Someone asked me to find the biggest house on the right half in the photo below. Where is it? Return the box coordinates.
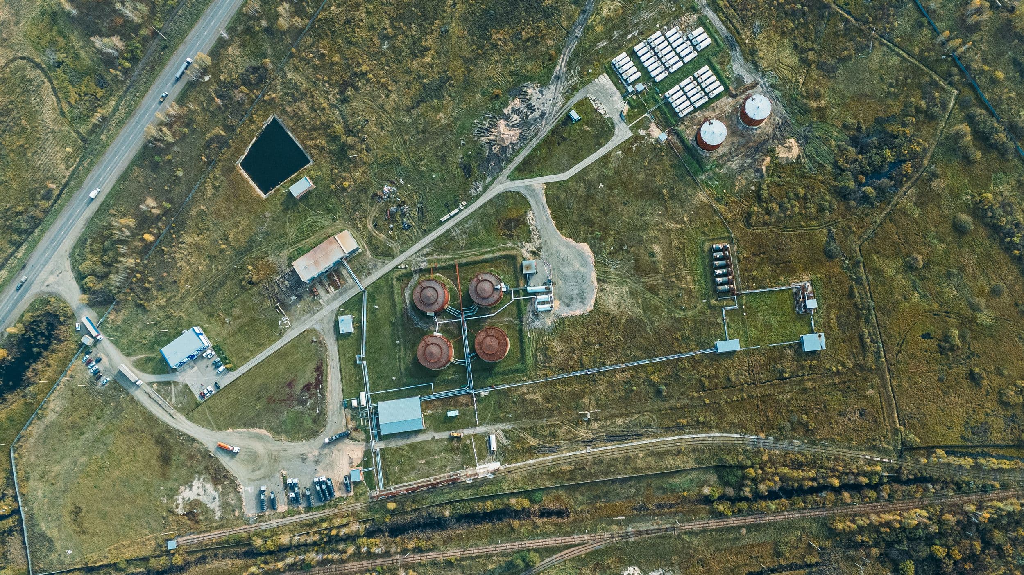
[800,333,826,351]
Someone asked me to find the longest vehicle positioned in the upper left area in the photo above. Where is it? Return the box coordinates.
[176,58,194,80]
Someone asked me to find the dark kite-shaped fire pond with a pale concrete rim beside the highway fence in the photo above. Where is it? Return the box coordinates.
[236,114,314,198]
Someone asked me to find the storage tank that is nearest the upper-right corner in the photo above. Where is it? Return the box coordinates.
[739,94,772,127]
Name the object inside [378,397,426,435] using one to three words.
building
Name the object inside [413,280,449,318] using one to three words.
storage tank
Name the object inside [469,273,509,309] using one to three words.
storage tank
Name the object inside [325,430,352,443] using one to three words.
vehicle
